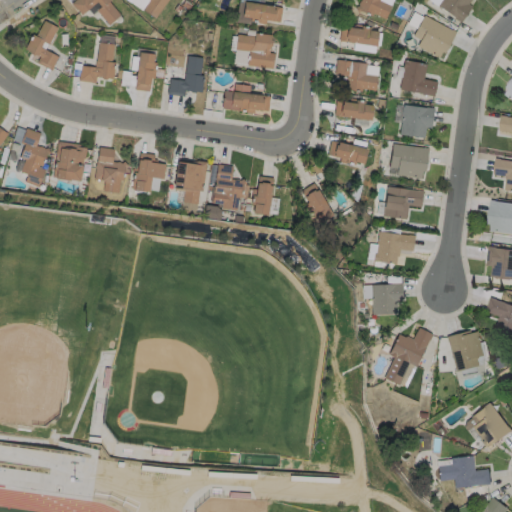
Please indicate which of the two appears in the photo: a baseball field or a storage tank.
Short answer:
baseball field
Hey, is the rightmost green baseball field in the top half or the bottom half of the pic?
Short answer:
bottom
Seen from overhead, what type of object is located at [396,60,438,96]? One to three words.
house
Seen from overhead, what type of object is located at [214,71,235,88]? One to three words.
swimming pool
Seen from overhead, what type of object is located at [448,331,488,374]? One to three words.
house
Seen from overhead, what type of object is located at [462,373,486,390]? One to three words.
swimming pool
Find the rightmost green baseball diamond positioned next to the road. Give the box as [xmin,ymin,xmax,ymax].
[104,234,326,459]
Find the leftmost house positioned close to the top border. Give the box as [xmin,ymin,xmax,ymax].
[28,20,59,69]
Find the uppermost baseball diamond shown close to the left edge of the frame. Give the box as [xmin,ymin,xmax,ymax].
[0,206,138,440]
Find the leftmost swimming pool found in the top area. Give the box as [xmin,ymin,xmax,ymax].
[4,174,28,190]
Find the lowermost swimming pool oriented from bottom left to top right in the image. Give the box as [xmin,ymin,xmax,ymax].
[446,407,467,426]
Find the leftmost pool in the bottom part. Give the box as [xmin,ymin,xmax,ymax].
[372,354,388,377]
